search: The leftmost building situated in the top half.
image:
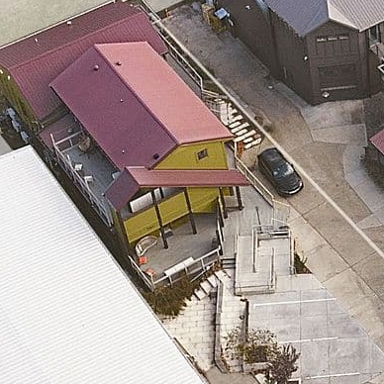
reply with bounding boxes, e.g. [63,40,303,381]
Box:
[0,0,252,286]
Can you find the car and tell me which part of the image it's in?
right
